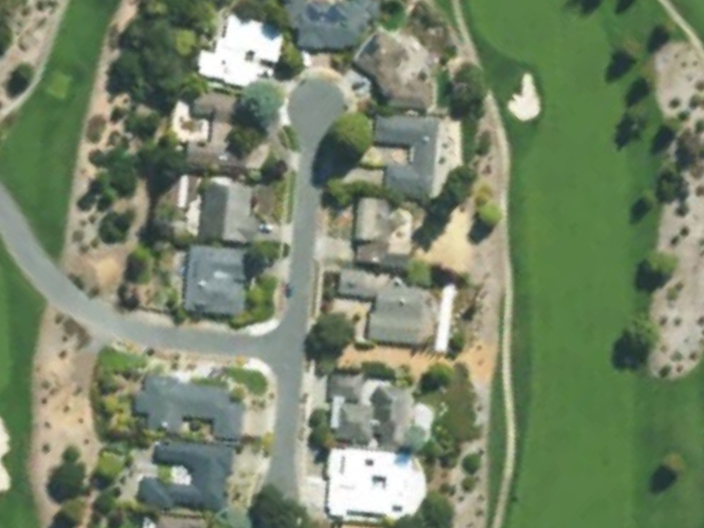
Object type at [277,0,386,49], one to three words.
house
